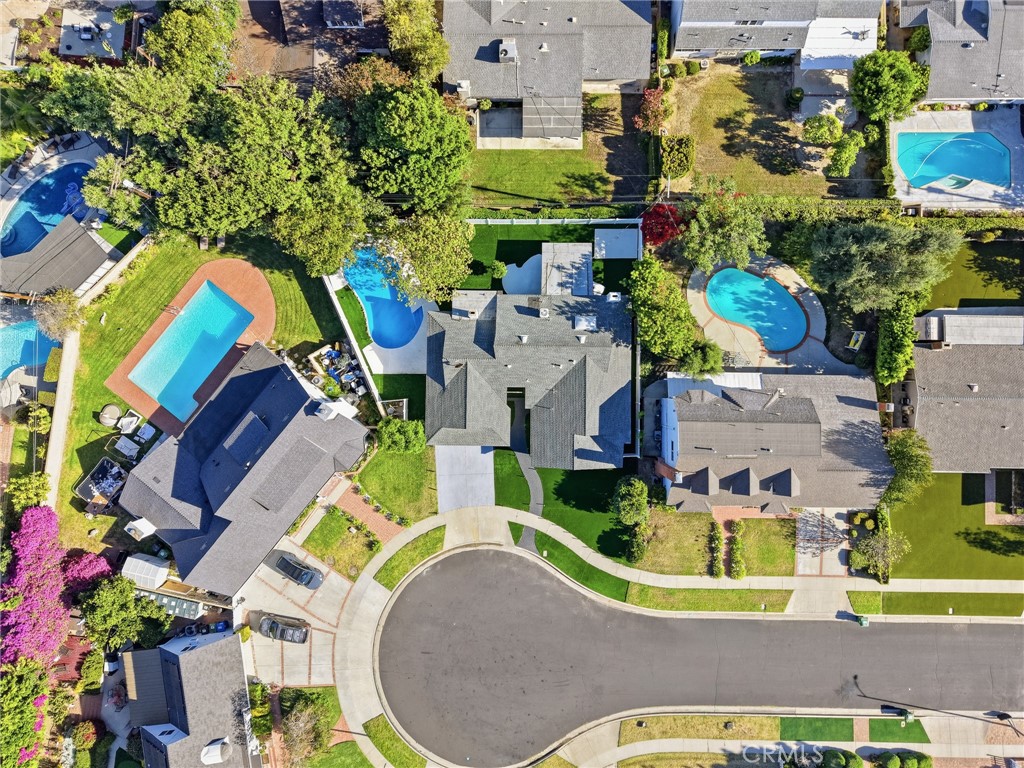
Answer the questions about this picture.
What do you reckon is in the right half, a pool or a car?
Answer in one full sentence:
The feature located in the right half is a pool.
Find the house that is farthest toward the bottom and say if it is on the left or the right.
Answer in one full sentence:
The house that is farthest toward the bottom appears in the left half of the scene.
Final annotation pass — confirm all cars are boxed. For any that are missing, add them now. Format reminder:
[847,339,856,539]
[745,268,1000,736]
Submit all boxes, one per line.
[274,554,324,590]
[259,613,308,642]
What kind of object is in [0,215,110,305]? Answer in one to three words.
building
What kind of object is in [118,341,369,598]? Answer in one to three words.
house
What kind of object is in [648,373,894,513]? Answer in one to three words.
house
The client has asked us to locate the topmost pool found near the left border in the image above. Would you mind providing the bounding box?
[0,160,101,258]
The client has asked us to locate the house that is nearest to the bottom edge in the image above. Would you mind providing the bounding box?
[122,627,262,768]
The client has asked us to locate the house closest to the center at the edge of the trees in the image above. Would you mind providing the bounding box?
[427,243,632,470]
